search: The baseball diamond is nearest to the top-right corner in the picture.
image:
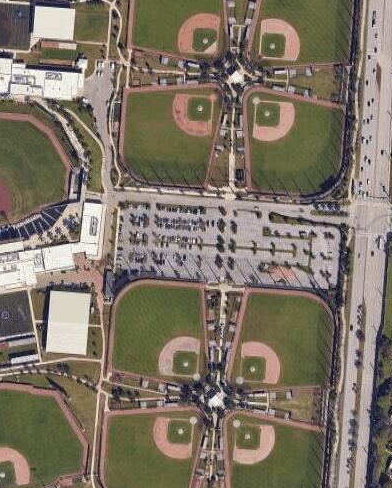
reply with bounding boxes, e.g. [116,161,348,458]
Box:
[247,0,354,67]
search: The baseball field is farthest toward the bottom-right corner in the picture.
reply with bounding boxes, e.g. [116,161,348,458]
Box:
[223,411,326,488]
